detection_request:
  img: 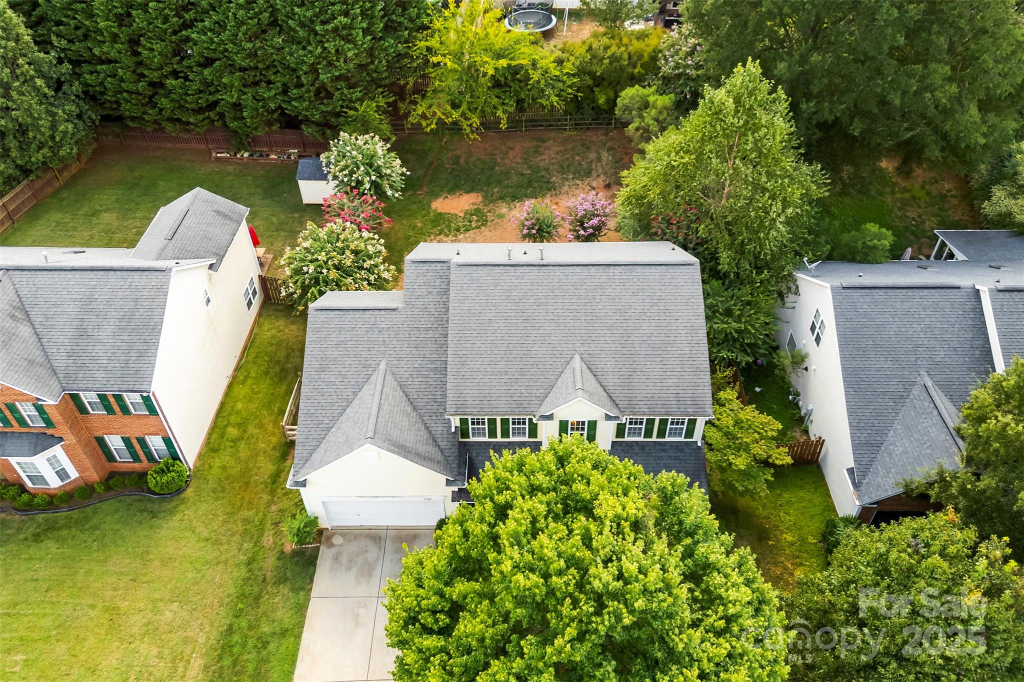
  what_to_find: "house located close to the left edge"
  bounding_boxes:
[0,188,266,493]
